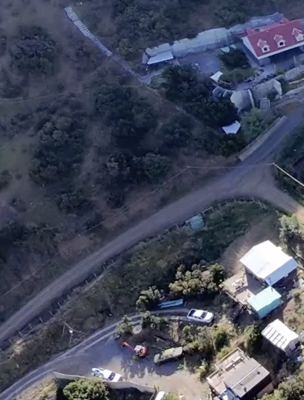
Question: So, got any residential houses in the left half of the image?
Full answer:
No, I can find no residential house in the left half of the image.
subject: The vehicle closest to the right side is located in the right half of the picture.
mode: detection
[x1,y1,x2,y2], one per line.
[185,307,214,323]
